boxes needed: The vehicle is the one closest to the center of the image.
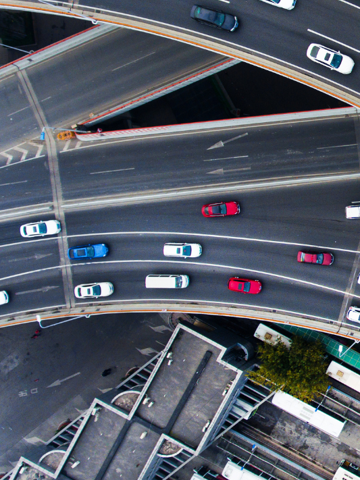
[163,242,204,260]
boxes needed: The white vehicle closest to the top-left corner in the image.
[20,219,63,237]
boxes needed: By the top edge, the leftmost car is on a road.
[190,3,241,33]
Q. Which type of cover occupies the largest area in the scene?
paved ground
